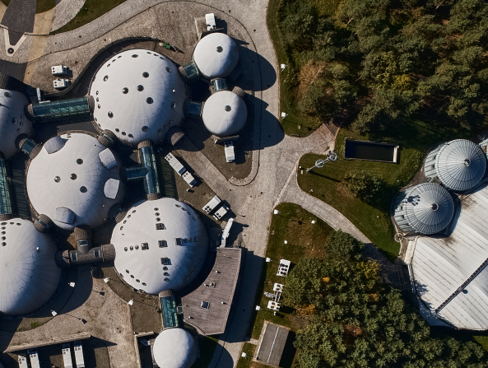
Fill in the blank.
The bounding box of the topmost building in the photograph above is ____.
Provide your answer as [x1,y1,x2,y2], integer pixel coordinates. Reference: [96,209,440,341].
[193,31,241,78]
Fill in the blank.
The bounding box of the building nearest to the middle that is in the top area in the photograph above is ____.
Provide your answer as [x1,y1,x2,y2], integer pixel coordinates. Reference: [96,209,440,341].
[201,86,249,138]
